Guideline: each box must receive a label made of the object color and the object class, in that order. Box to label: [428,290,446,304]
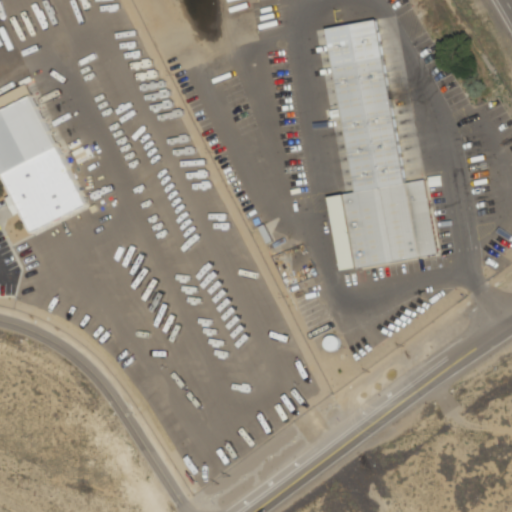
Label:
white vehicle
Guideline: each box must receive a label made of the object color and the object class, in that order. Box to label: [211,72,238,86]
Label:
white vehicle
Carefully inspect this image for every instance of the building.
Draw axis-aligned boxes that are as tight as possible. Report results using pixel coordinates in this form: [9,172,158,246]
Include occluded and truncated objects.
[324,20,419,269]
[0,96,88,234]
